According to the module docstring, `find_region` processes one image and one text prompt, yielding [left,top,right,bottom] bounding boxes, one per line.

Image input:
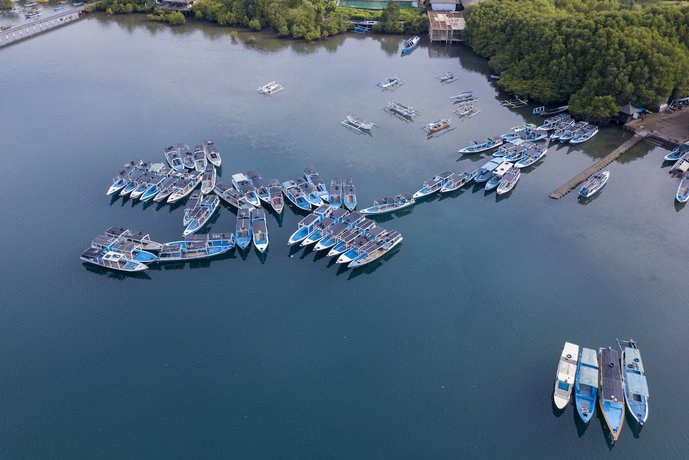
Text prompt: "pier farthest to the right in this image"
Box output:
[551,133,651,201]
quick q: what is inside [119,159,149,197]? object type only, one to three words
boat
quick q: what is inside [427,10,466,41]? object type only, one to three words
building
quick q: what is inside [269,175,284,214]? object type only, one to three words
boat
